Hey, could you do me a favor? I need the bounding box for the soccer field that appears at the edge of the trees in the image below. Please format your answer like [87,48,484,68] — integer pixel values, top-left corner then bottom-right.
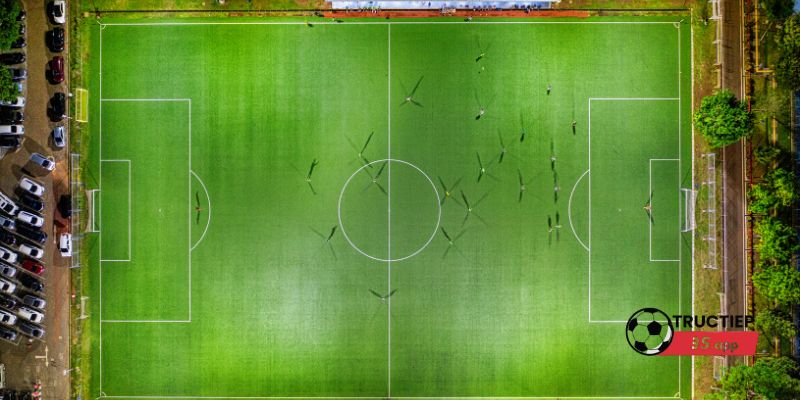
[89,16,692,400]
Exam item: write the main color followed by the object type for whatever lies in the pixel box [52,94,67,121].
black vehicle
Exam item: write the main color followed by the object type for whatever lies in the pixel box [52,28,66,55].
black car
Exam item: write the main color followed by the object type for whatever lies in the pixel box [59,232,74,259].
white vehicle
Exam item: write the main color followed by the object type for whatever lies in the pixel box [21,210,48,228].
white car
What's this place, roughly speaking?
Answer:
sports ground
